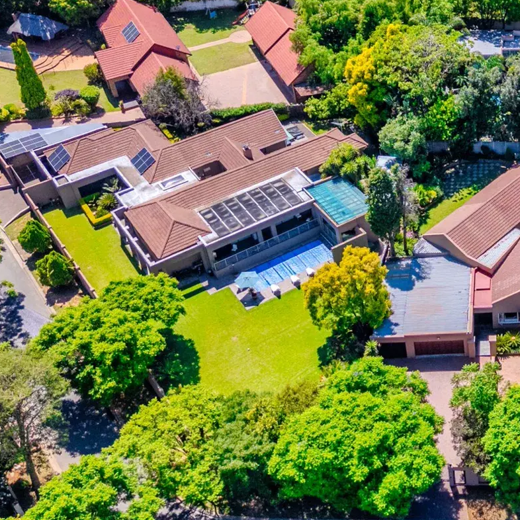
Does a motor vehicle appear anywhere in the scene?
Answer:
No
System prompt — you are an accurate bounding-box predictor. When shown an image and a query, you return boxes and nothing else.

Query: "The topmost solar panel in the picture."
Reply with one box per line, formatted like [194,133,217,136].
[121,20,140,42]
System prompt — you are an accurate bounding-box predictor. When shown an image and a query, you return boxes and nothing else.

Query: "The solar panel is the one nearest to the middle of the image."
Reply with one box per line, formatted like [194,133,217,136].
[130,148,155,174]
